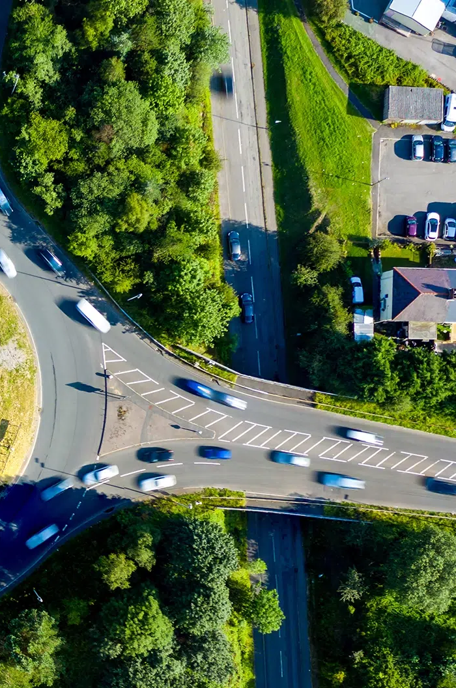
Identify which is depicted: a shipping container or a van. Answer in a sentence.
The image shows a van.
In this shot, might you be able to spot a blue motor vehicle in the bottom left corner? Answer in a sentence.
Yes, the scene does show a blue motor vehicle in the bottom left corner.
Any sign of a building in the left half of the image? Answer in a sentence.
No, there's no building to be seen in the left half of the image.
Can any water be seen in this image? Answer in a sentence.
No, the scene doesn't show any water.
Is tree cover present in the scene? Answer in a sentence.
Yes, tree cover can be seen from above here.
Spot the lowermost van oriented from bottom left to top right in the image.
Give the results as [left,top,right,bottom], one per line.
[25,521,61,550]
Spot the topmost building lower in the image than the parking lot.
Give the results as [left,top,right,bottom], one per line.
[382,266,456,323]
